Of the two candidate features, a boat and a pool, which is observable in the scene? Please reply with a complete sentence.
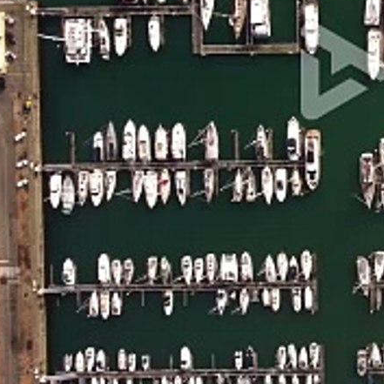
Of the two, only a boat appears.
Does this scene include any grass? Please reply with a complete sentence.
No, the scene doesn't show any grass.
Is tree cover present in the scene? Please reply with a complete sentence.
No, the scene doesn't show any tree cover.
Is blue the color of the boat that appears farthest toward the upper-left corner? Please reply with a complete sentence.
No, the boat that appears farthest toward the upper-left corner is actually white.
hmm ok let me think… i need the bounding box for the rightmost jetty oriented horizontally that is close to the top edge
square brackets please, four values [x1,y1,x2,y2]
[69,0,304,54]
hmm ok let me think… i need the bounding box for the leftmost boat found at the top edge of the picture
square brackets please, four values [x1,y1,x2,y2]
[45,18,90,63]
